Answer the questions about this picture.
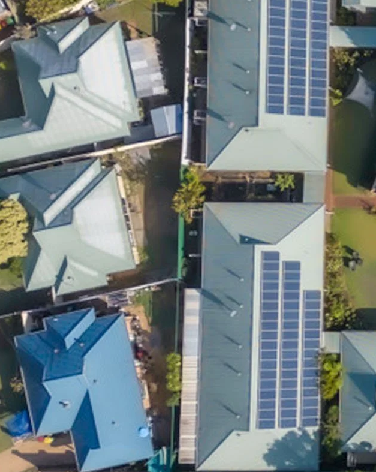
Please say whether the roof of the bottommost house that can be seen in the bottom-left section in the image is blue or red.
blue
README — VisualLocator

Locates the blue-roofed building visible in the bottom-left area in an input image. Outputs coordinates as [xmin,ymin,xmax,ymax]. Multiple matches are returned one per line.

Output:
[15,308,157,472]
